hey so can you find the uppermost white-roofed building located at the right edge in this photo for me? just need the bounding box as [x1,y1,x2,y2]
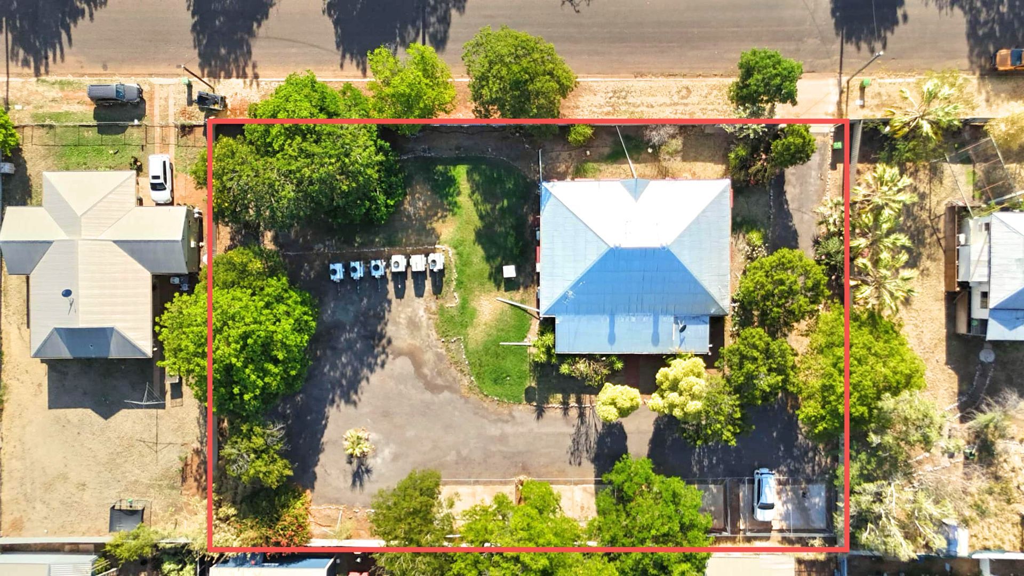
[946,205,1024,342]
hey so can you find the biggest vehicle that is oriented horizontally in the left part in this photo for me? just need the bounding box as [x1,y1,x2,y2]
[86,83,147,107]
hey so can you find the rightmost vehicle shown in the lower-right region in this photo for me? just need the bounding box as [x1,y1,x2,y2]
[750,467,775,519]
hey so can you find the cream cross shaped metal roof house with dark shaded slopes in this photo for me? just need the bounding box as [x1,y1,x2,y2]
[0,170,199,359]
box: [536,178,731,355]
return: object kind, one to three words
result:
house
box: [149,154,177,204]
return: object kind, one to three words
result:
car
